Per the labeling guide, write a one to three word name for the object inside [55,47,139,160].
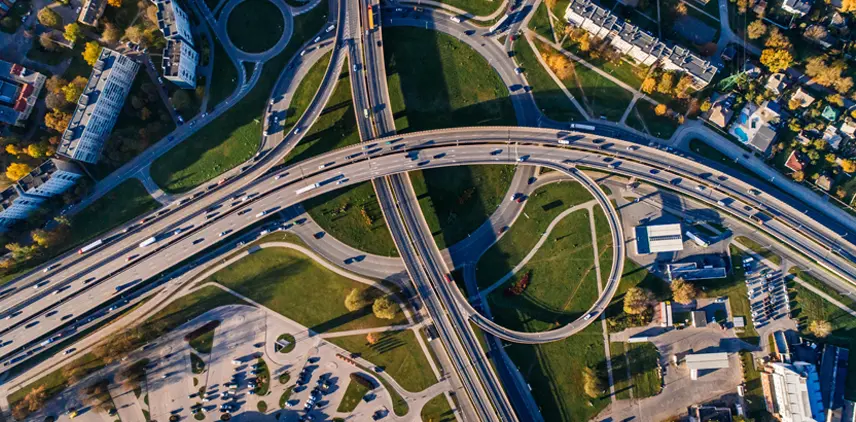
building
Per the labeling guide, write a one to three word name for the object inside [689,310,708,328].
building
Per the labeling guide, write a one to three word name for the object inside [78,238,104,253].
vehicle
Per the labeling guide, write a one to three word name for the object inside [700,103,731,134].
house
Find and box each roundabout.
[218,0,293,62]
